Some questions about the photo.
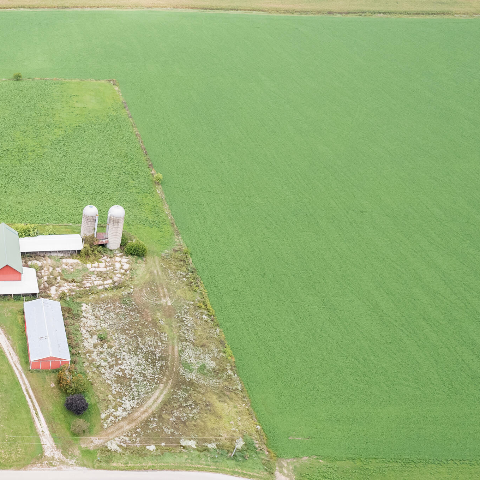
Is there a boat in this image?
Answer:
No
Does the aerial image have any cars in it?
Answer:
No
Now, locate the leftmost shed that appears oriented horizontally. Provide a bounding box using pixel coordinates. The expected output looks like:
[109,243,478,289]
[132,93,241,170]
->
[20,235,82,256]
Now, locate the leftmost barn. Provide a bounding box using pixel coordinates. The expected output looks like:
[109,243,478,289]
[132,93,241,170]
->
[0,222,38,298]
